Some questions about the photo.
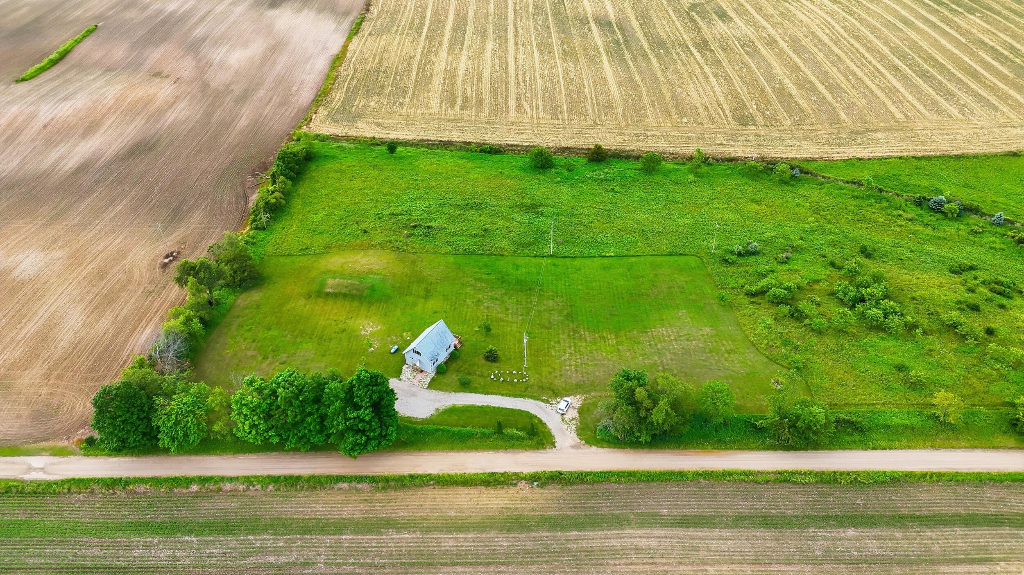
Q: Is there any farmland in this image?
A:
Yes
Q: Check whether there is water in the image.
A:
No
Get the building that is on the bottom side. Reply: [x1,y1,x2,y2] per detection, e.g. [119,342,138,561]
[401,321,463,375]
